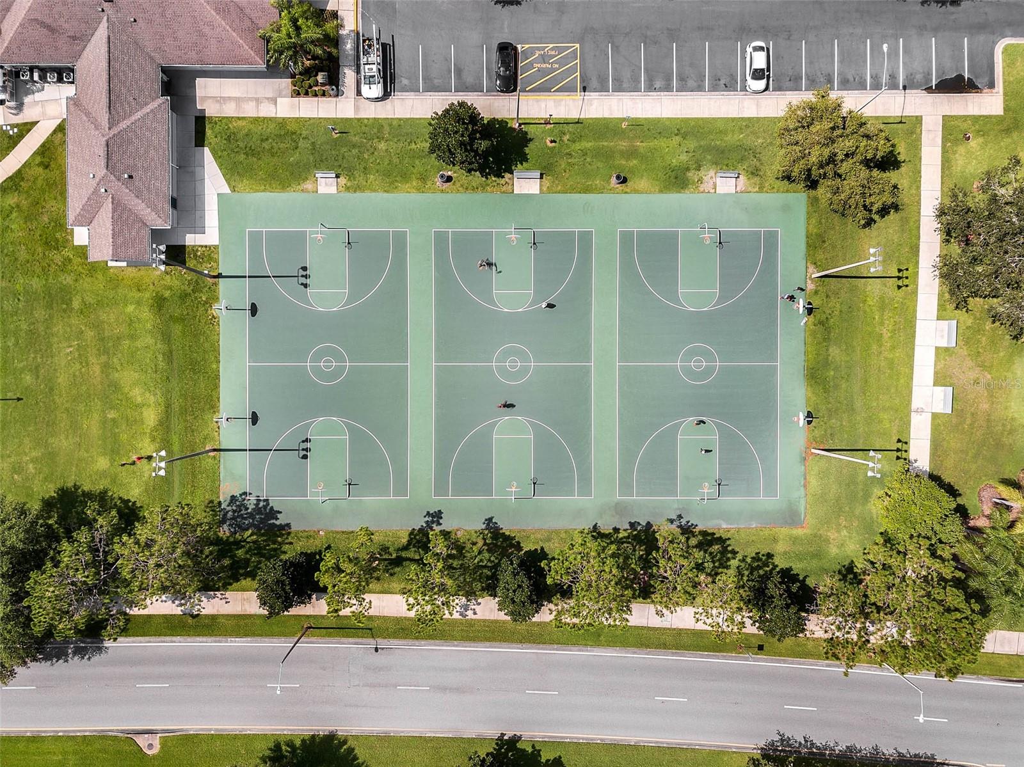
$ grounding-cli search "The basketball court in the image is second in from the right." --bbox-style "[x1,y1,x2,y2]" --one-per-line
[433,230,594,498]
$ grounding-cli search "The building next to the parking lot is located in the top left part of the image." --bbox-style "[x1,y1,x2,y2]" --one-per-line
[0,0,272,265]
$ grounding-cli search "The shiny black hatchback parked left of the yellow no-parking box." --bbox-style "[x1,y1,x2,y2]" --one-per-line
[494,43,518,93]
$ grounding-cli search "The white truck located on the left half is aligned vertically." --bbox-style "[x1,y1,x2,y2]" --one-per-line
[360,22,385,100]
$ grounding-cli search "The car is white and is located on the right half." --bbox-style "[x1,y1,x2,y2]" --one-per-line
[744,42,769,94]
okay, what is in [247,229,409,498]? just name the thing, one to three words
basketball court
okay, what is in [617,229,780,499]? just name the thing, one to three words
basketball court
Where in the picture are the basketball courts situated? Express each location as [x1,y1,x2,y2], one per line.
[247,229,409,498]
[433,230,594,498]
[617,229,780,499]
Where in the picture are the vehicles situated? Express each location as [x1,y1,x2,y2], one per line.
[744,42,769,94]
[360,22,385,100]
[494,43,518,93]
